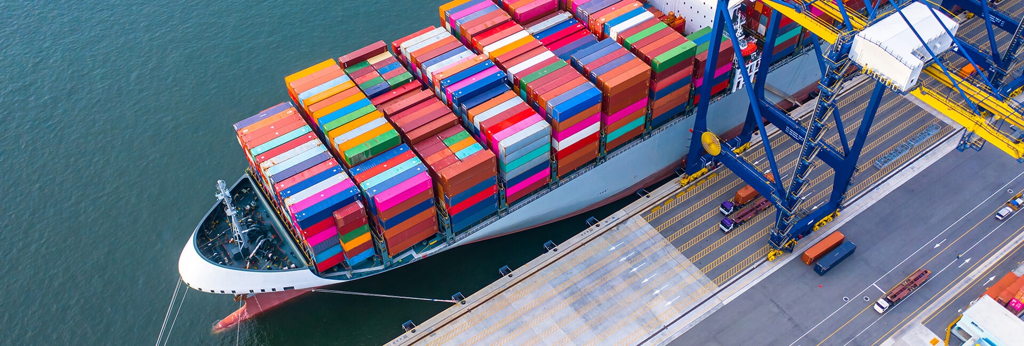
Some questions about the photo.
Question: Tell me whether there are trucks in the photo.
Yes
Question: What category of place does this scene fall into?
port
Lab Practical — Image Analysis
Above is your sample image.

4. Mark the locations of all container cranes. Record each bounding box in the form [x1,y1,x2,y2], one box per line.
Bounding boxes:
[677,0,1024,260]
[914,0,1024,114]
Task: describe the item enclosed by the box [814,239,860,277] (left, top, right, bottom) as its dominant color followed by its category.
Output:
blue shipping container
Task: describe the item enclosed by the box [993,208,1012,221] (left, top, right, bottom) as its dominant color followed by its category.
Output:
white vehicle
